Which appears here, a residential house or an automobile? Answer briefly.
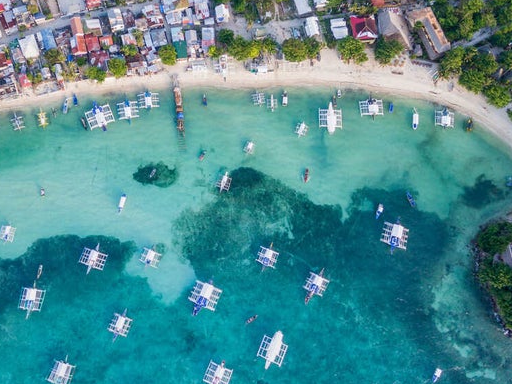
residential house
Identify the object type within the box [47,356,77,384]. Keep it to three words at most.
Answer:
boat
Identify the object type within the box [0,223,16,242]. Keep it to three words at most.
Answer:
boat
